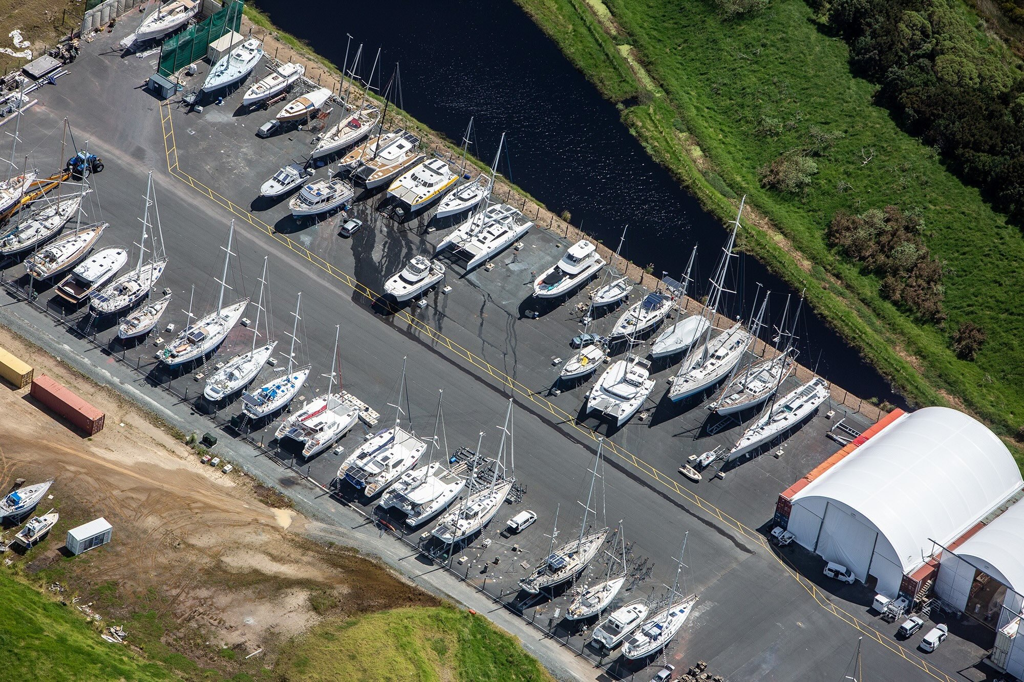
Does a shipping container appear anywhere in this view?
Yes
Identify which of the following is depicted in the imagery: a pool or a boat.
boat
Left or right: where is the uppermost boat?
left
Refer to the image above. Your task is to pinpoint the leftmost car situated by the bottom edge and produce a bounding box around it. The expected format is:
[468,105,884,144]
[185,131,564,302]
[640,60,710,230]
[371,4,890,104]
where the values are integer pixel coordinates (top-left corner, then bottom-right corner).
[651,657,672,682]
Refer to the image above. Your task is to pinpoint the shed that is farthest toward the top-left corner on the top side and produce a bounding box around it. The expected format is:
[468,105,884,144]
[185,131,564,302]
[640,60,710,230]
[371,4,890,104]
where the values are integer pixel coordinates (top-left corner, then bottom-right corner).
[150,76,177,101]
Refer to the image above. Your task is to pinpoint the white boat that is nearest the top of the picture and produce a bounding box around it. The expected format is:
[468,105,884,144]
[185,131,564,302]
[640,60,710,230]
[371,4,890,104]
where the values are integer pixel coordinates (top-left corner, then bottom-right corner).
[134,0,212,38]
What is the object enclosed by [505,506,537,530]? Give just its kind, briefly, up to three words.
vehicle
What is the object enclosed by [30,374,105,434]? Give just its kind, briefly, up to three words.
shipping container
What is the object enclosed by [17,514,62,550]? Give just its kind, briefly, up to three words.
boat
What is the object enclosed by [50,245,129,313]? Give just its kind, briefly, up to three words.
boat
